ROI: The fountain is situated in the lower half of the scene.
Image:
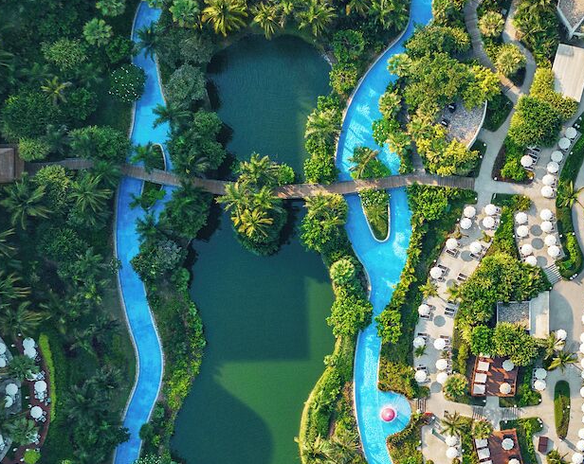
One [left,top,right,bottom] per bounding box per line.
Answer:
[381,406,396,422]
